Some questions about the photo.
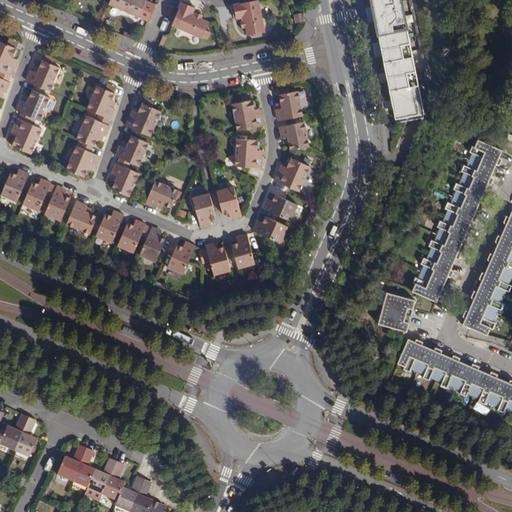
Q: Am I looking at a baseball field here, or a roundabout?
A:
roundabout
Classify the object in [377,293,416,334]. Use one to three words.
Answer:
building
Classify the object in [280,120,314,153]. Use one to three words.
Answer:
house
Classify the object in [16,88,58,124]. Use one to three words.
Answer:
house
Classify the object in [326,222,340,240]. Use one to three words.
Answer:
vehicle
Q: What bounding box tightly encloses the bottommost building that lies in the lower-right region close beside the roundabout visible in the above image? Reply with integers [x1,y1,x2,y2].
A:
[397,340,512,414]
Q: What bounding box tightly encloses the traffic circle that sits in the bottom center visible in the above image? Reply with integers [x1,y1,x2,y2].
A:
[182,322,346,486]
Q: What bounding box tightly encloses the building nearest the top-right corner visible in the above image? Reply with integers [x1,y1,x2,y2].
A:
[368,0,426,124]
